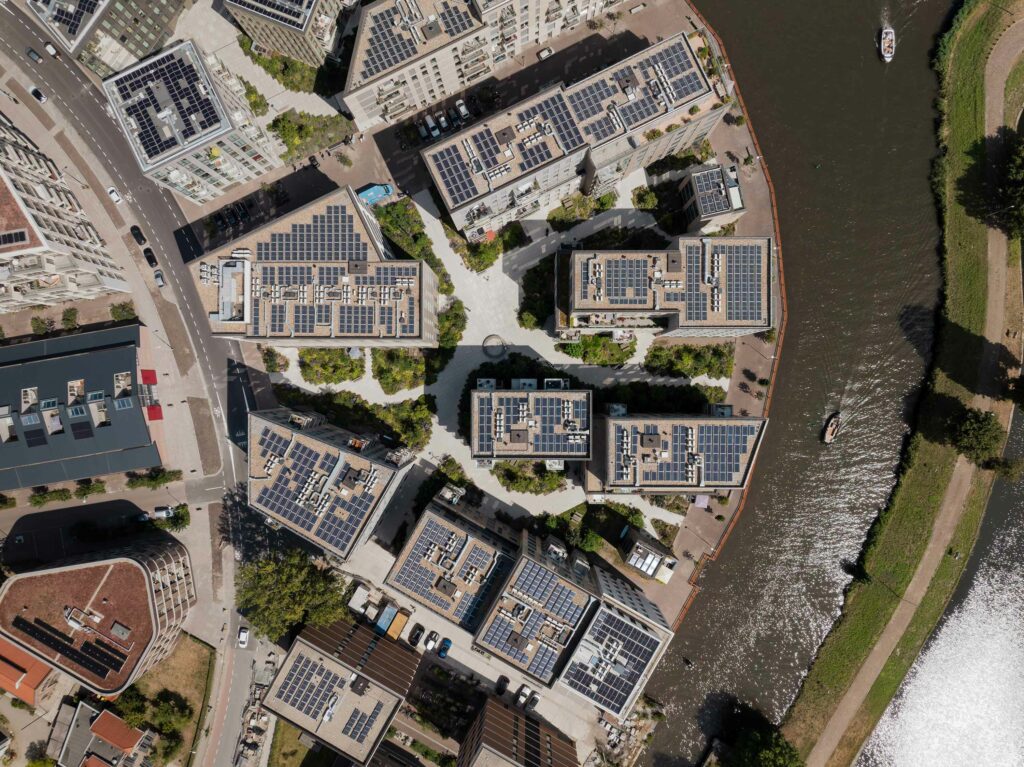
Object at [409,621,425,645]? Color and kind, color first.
black car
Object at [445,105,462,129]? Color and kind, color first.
black car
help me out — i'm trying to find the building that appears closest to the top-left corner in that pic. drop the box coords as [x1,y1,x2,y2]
[26,0,172,80]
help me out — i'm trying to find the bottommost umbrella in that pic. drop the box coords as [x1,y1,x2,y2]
[697,496,710,509]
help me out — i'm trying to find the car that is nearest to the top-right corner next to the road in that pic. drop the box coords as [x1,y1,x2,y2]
[533,46,556,63]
